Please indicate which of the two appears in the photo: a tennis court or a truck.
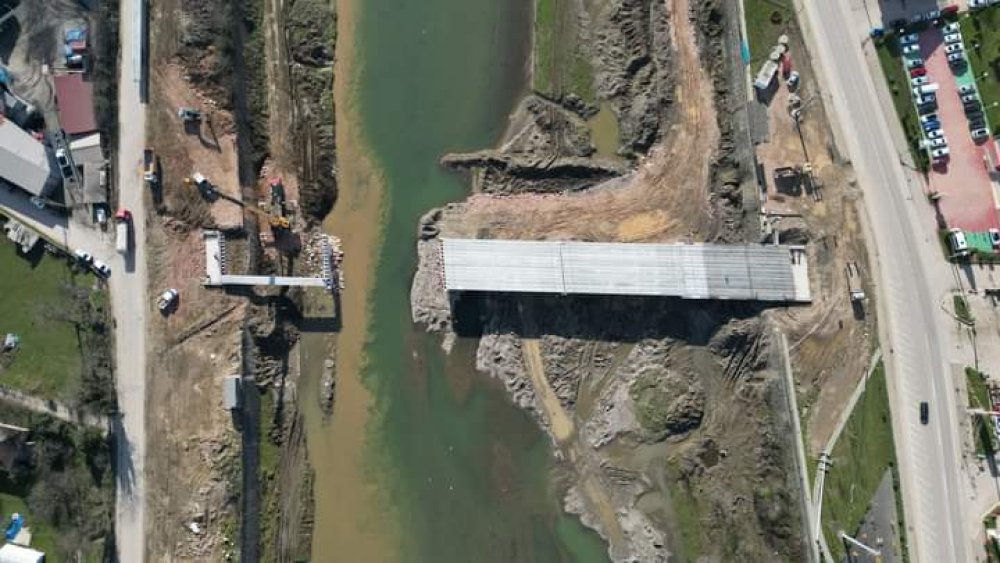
truck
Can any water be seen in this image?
Yes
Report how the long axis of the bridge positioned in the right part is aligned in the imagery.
horizontally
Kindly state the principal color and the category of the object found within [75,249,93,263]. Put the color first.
white car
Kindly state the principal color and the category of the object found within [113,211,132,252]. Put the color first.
white vehicle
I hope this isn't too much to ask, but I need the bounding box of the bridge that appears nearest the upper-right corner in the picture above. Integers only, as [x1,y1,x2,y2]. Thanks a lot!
[439,238,812,303]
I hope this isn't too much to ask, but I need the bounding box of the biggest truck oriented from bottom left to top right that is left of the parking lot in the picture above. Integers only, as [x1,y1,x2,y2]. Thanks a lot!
[752,57,783,92]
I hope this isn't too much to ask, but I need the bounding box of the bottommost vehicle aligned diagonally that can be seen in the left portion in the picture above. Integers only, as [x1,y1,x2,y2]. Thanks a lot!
[157,291,180,309]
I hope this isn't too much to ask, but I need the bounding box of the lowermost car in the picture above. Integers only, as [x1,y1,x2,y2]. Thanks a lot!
[917,402,930,422]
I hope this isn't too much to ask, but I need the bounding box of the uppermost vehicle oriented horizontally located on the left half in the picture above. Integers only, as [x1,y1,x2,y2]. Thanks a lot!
[181,107,218,121]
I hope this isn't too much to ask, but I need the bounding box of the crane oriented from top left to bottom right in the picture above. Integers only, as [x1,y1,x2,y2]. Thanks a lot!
[184,163,281,225]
